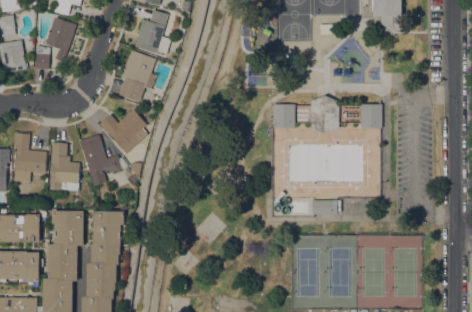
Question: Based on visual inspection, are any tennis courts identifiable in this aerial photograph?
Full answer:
Yes, you can see a tennis court in this photo.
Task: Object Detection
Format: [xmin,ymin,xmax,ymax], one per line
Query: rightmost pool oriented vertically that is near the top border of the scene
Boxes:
[40,14,52,39]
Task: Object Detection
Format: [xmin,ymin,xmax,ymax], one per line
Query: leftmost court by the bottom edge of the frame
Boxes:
[294,235,326,308]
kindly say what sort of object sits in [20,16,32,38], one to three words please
swimming pool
